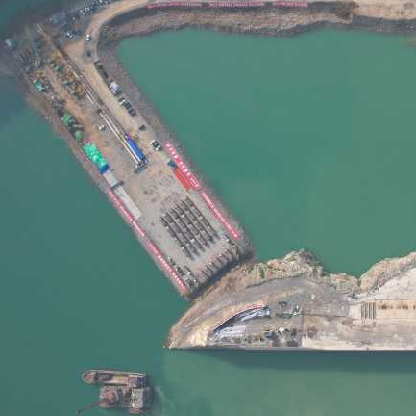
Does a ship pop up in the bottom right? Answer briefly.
No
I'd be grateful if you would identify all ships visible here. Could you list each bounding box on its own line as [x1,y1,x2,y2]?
[79,387,152,412]
[80,371,147,392]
